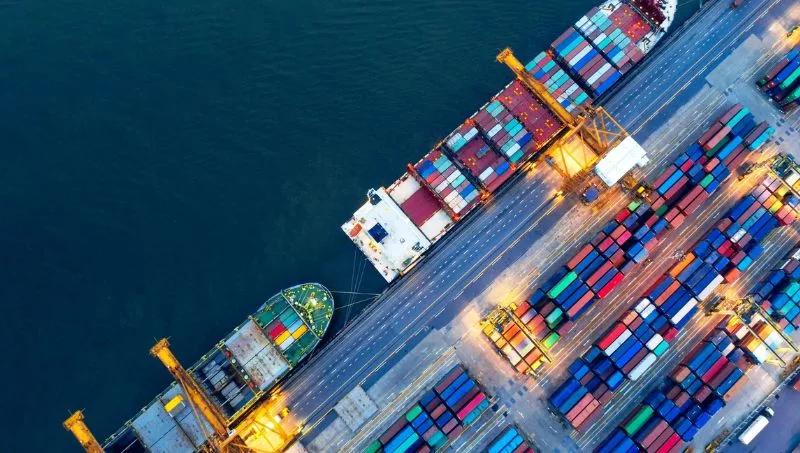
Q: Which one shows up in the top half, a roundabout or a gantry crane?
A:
gantry crane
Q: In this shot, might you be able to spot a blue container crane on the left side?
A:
No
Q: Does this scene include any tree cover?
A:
No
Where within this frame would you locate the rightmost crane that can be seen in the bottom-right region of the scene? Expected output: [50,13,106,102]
[706,298,800,369]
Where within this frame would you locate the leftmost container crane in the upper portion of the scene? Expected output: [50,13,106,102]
[492,41,654,207]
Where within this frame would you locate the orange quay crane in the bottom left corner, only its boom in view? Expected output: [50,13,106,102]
[52,416,97,453]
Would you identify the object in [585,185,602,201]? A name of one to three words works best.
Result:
vehicle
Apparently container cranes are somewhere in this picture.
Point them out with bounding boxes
[143,340,311,453]
[492,41,654,207]
[480,304,553,378]
[706,298,800,369]
[738,151,800,198]
[52,416,97,453]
